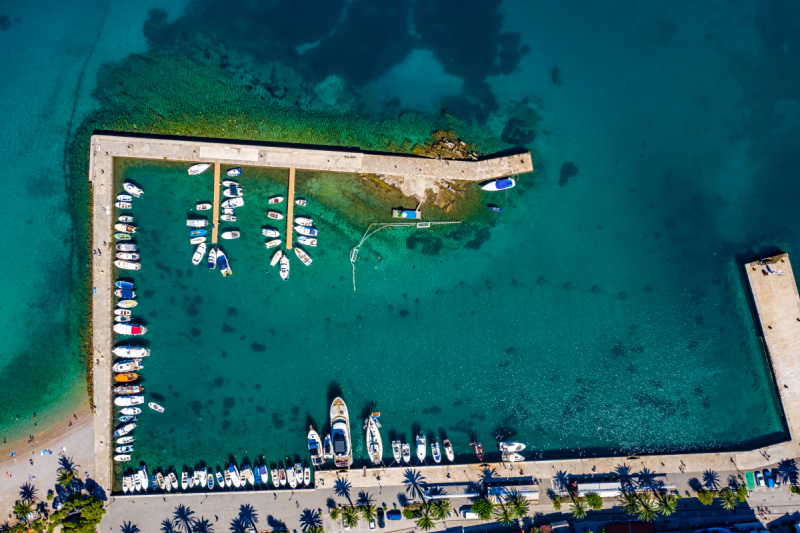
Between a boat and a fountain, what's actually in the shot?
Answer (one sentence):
I can see a boat in this picture.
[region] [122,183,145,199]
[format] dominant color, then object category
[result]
white boat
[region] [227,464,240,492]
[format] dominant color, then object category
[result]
white boat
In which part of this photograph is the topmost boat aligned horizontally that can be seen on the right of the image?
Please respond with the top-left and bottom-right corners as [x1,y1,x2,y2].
[482,177,518,190]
